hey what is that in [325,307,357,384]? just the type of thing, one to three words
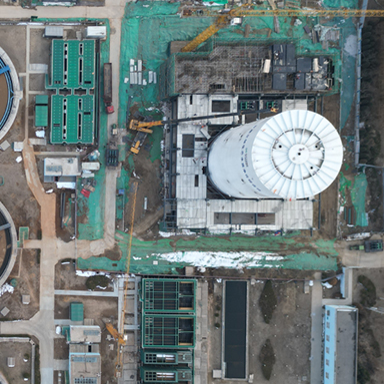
building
